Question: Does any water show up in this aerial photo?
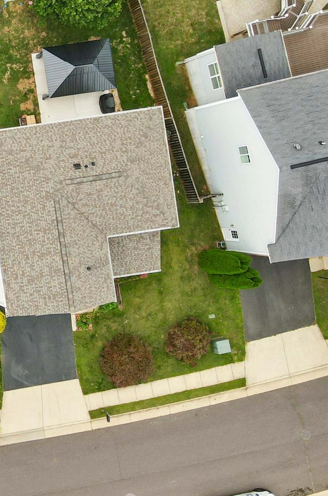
No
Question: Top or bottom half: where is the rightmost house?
top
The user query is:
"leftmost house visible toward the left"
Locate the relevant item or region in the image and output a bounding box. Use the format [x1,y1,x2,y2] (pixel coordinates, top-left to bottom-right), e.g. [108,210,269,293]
[0,106,180,316]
